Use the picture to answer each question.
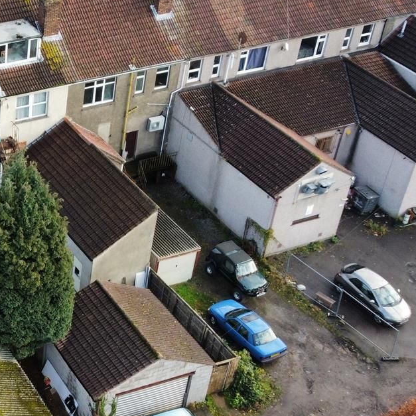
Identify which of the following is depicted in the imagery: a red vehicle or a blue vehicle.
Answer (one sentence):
Of the two, only a blue vehicle appears.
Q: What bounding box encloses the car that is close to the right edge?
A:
[333,264,416,329]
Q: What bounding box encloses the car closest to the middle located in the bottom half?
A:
[207,236,278,303]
